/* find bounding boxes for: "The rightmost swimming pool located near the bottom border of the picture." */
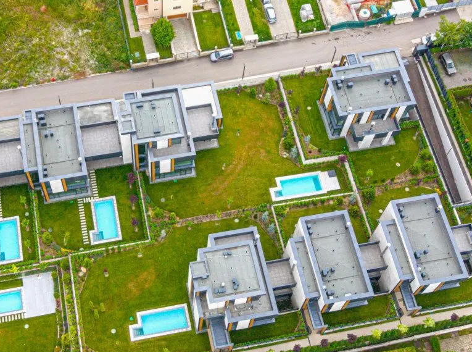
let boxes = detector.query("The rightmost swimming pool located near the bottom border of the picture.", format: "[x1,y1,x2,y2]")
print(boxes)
[128,303,191,342]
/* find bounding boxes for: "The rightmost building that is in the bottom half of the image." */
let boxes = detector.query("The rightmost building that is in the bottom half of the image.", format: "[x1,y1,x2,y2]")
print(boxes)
[370,193,472,313]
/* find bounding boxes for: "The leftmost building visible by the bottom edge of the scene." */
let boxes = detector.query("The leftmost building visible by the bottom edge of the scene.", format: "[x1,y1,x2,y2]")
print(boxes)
[190,227,296,352]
